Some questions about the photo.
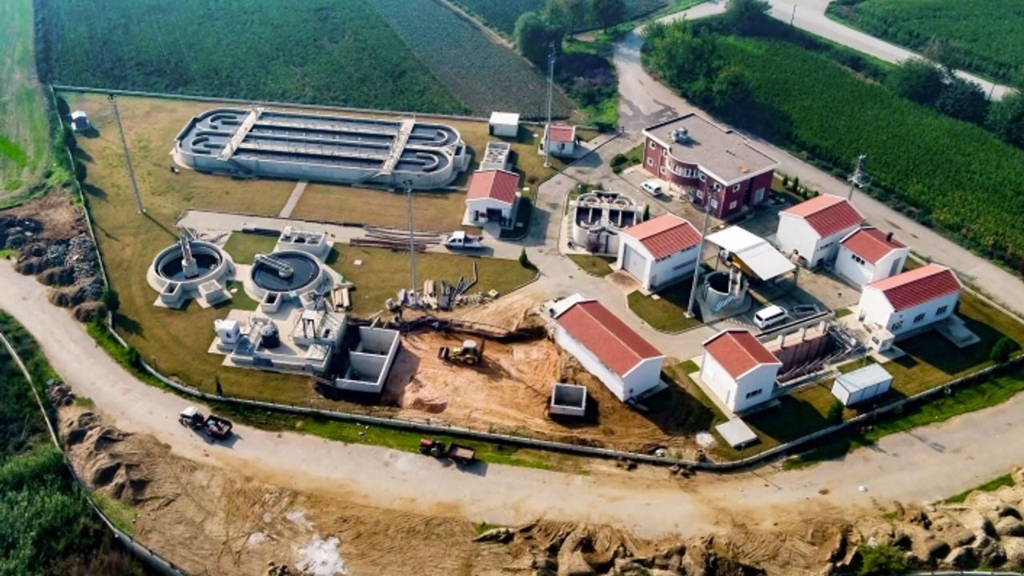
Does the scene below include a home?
Yes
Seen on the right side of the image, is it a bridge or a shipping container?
shipping container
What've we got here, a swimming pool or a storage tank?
storage tank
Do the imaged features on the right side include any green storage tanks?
No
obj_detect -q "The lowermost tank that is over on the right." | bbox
[696,271,754,323]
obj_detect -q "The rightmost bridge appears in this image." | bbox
[379,113,414,174]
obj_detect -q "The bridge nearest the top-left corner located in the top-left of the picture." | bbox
[215,102,264,161]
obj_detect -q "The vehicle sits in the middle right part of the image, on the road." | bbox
[754,306,792,330]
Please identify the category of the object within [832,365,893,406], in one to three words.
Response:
shipping container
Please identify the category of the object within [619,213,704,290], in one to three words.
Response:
building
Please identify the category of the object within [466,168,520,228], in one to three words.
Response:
house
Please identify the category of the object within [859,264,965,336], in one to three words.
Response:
building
